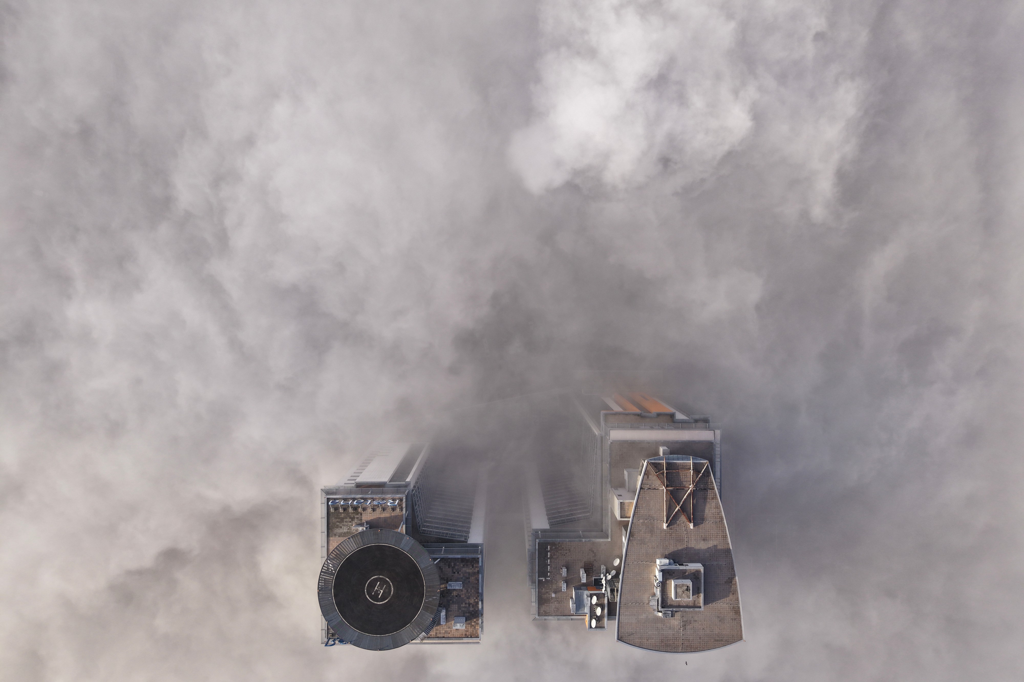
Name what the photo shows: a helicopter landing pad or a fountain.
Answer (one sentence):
There is a helicopter landing pad in the scene.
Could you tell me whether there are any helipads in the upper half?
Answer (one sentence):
No, the scene shows no helipad in the upper half.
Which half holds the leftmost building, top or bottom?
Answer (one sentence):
The leftmost building sits in the bottom half of the picture.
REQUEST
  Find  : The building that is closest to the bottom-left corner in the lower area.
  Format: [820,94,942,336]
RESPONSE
[321,441,492,645]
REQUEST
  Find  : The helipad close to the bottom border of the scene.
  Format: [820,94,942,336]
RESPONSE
[317,519,441,652]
